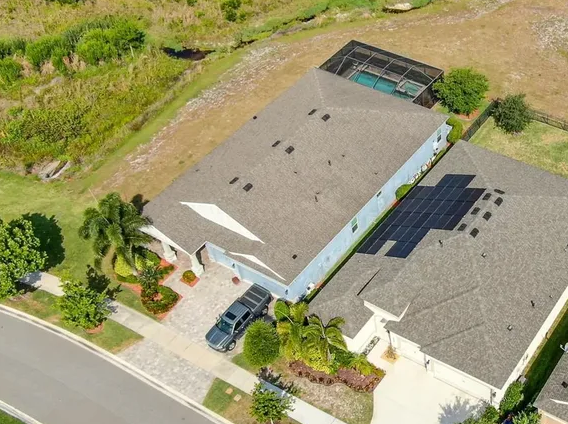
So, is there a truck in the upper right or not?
No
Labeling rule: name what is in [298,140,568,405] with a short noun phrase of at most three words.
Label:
house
